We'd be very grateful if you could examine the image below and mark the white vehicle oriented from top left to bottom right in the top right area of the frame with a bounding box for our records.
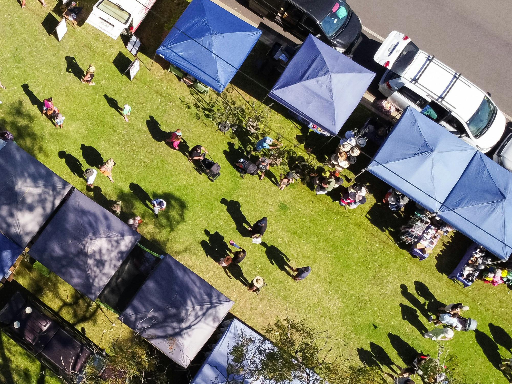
[374,31,508,157]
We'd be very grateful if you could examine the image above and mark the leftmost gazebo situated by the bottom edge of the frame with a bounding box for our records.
[114,254,234,369]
